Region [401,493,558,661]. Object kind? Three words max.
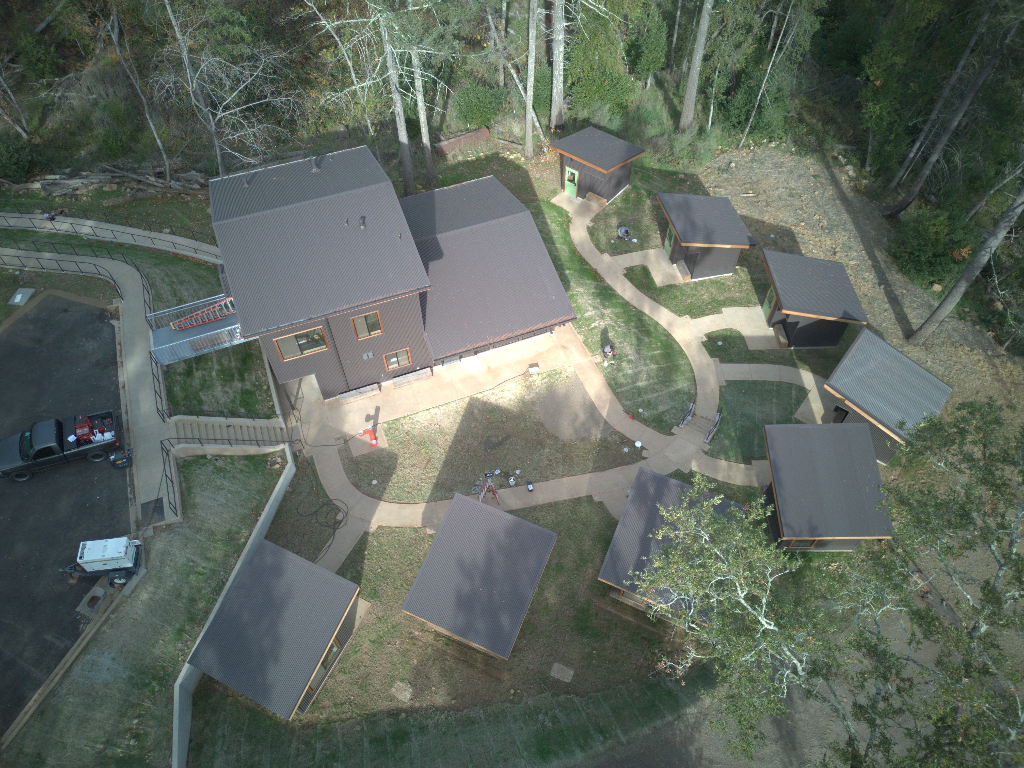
building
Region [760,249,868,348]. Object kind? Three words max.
building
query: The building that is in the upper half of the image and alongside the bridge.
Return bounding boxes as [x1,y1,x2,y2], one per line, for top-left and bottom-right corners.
[210,143,577,401]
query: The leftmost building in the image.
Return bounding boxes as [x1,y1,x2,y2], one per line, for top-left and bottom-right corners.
[188,539,361,721]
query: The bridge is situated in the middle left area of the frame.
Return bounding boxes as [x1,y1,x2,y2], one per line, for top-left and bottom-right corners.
[143,291,248,369]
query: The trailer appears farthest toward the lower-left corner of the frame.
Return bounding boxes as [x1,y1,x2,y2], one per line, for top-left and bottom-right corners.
[60,537,148,580]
